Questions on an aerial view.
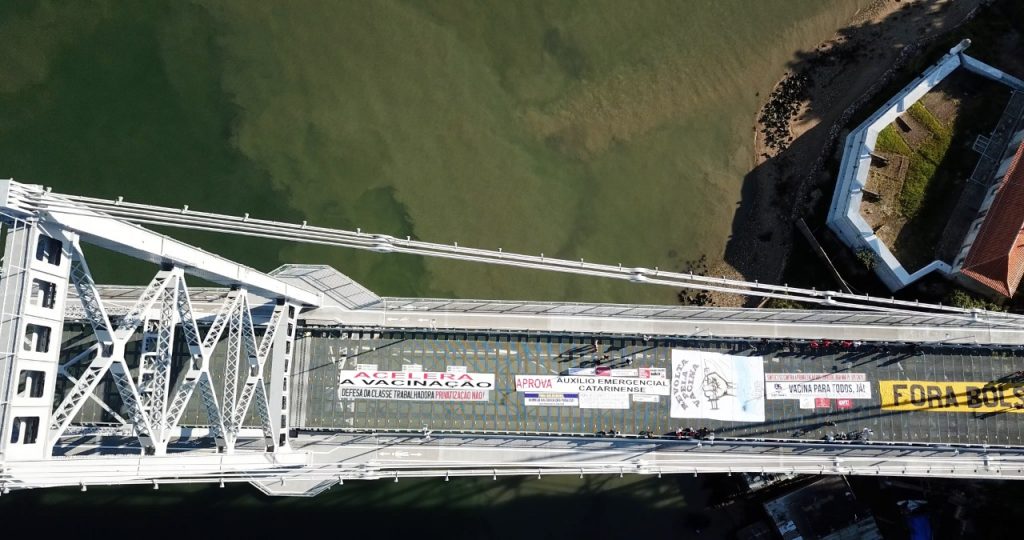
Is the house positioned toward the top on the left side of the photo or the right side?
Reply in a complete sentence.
The house positioned toward the top sits on the right side.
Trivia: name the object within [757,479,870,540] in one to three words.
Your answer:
shed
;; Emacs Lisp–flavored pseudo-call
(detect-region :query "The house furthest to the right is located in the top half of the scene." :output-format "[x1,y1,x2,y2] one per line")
[940,123,1024,297]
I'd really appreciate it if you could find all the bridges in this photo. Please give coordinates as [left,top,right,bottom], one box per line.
[0,172,1024,498]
